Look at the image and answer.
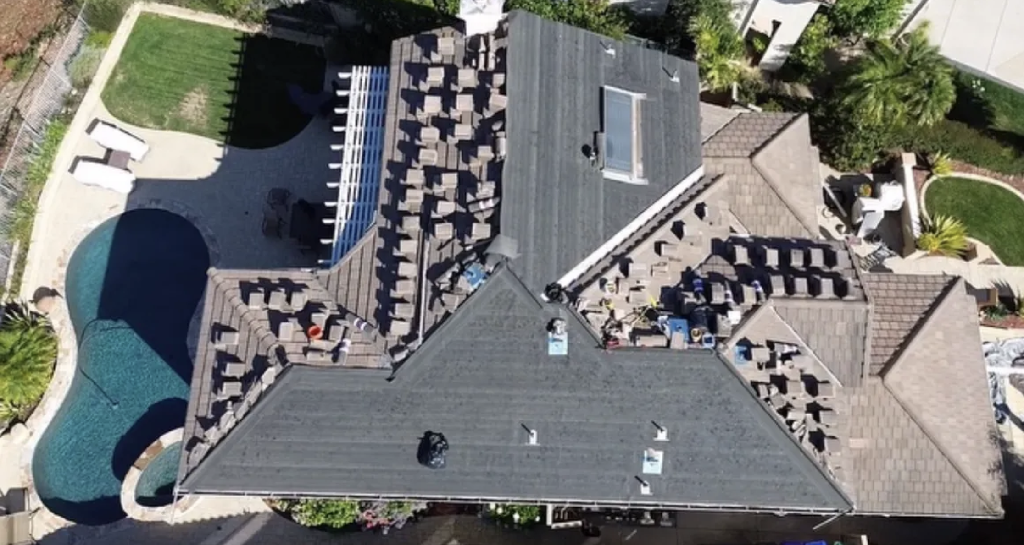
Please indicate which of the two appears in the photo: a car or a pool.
pool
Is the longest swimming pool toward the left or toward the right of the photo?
left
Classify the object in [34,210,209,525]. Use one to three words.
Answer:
swimming pool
